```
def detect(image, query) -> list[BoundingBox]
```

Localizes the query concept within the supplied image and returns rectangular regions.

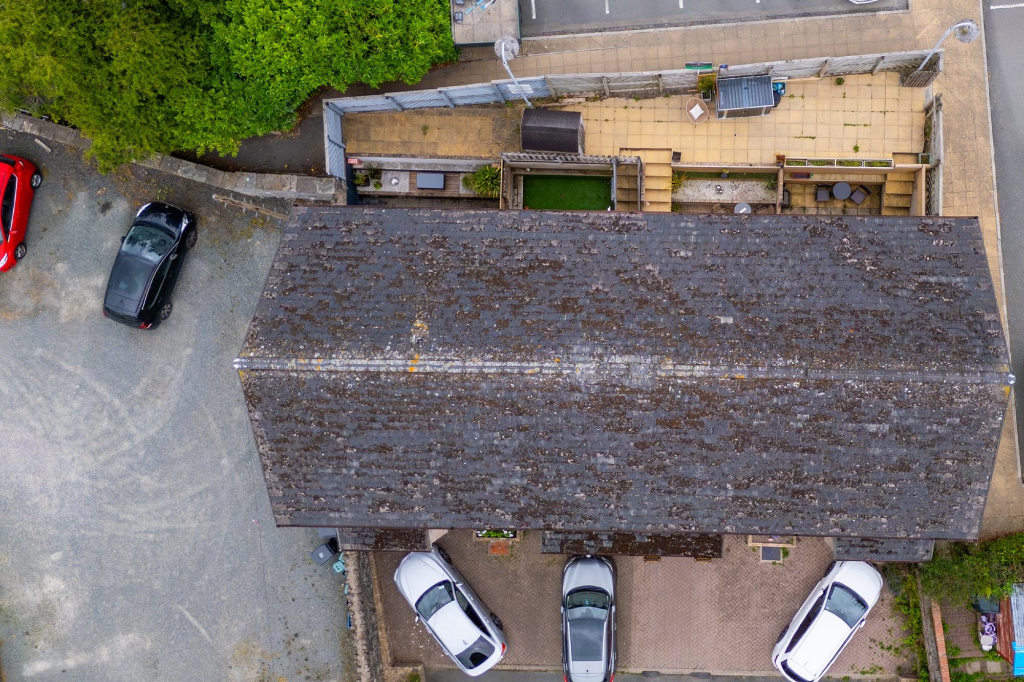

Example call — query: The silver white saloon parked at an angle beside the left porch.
[402,550,506,679]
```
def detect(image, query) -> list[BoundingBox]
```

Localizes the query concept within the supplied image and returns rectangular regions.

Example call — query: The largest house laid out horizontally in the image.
[232,202,1019,564]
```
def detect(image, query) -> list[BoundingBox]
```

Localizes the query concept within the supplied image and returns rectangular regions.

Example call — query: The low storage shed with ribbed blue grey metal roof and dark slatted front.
[717,74,774,117]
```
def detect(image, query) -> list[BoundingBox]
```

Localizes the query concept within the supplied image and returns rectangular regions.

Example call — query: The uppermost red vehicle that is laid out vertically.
[0,153,49,269]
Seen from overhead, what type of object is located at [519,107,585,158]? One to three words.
shed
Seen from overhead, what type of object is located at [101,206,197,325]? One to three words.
car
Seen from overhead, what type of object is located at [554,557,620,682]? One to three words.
car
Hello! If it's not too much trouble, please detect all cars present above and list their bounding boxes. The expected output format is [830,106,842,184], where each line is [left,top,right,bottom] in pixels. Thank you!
[402,550,506,679]
[0,153,49,269]
[101,206,197,325]
[773,562,877,682]
[554,557,620,682]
